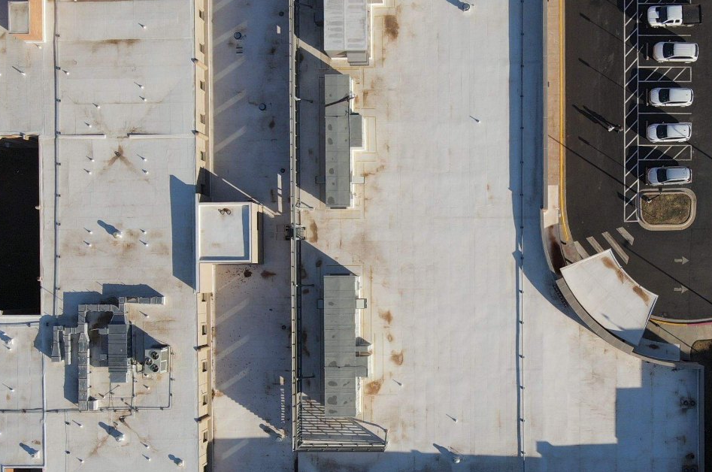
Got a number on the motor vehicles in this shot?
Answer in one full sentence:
There are 5 motor vehicles in the image.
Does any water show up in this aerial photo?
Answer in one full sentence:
No, there is no water in the image.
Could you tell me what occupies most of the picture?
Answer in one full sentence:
Most of the picture is covered by buildings.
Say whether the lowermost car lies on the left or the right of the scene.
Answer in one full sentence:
It is on the right.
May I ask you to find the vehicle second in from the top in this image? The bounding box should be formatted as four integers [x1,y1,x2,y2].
[651,40,700,63]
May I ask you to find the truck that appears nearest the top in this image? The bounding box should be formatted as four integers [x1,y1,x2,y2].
[646,2,703,28]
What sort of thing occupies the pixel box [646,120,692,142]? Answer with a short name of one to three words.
car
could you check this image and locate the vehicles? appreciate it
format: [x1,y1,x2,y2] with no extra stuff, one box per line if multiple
[646,2,703,28]
[651,40,700,63]
[647,85,693,108]
[646,163,692,186]
[646,120,692,142]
